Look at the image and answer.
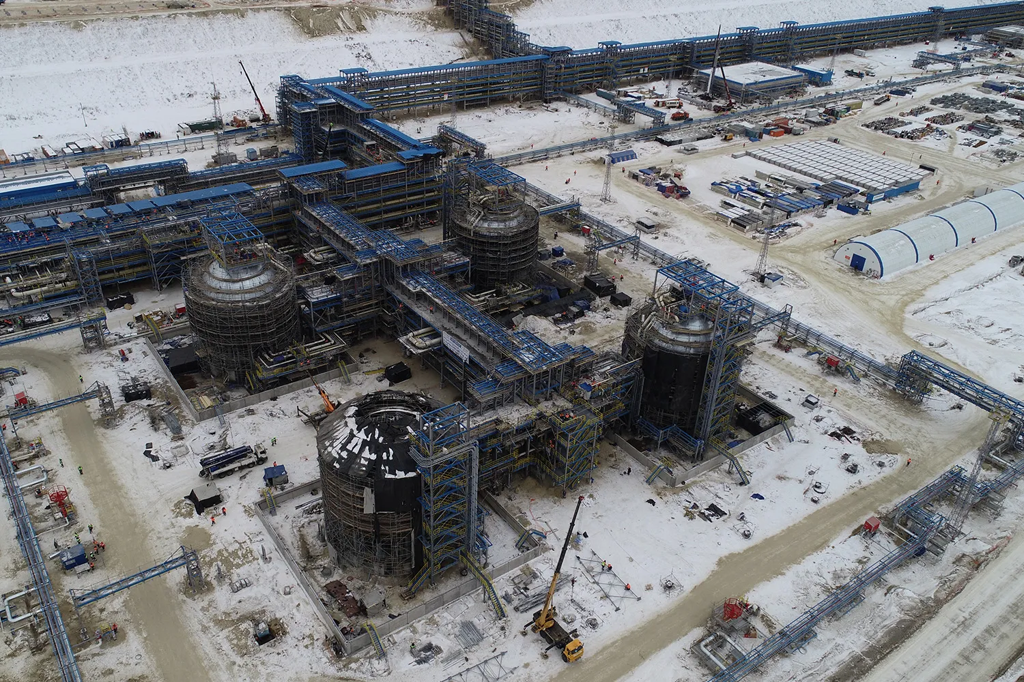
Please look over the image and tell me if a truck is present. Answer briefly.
Yes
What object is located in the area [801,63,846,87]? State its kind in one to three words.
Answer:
building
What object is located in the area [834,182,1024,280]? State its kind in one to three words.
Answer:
hangar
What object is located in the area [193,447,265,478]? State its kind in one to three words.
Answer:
truck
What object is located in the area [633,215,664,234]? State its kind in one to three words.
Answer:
shed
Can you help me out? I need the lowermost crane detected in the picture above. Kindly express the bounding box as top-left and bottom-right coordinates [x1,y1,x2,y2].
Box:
[520,495,590,669]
